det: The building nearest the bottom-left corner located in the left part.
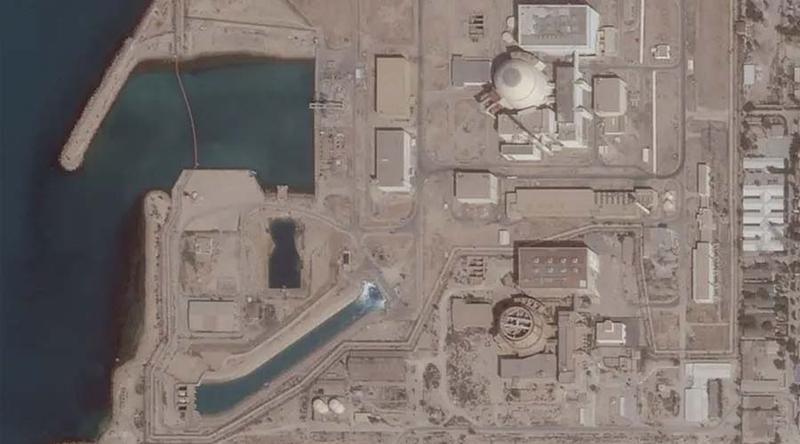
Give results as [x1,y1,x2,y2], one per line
[177,384,189,417]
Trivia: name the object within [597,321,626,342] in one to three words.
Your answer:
building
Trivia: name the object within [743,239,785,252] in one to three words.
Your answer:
shed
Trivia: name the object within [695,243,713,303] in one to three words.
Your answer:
building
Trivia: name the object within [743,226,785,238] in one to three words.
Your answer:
shed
